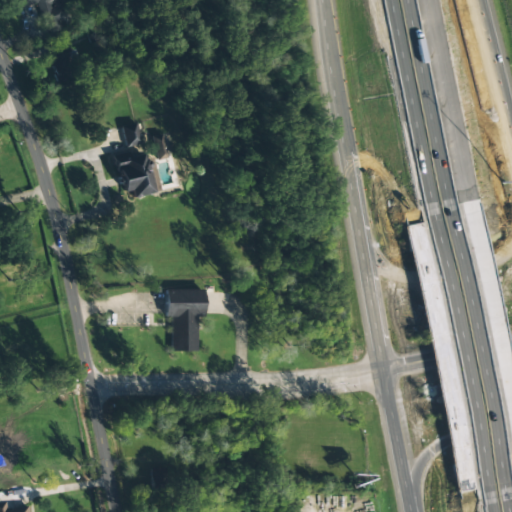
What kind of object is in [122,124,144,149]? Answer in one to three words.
building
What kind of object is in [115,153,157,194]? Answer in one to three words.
house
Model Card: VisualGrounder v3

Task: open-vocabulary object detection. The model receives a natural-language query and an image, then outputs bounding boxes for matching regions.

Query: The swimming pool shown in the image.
[154,152,182,192]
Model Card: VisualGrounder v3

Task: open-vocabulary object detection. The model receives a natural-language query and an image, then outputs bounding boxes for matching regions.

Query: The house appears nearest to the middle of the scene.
[168,290,209,350]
